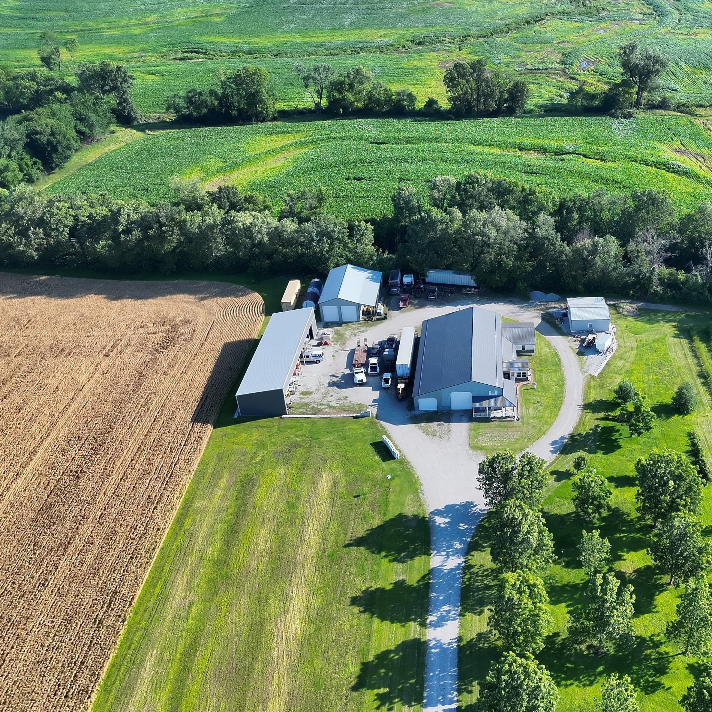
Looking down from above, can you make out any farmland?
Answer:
Yes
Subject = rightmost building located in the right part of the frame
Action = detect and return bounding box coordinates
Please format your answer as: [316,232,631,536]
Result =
[568,298,611,332]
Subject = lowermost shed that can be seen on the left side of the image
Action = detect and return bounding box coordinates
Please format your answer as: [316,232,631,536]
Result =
[234,307,316,415]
